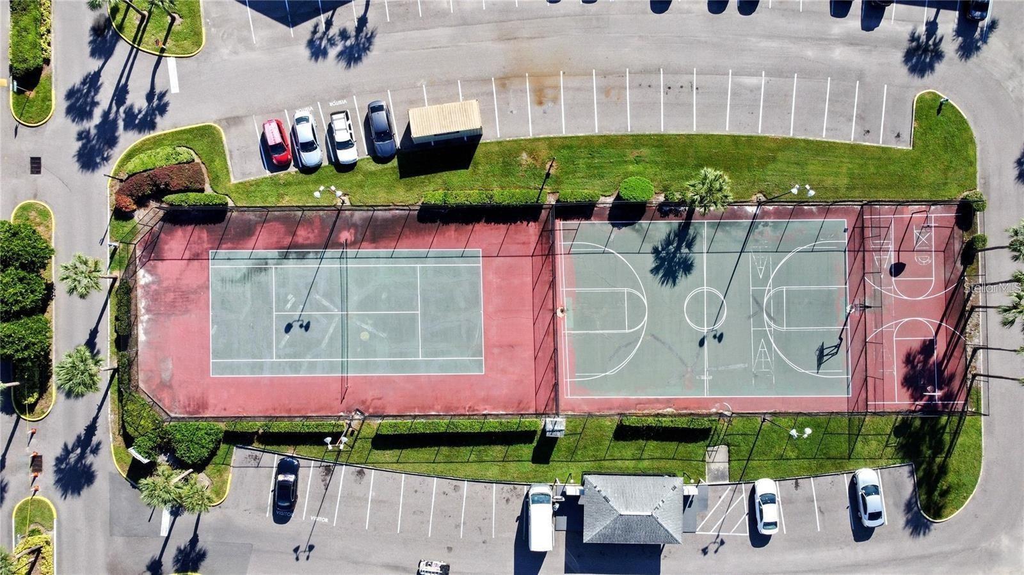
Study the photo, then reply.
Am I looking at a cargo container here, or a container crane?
cargo container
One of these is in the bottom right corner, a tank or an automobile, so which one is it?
automobile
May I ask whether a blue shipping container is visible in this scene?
No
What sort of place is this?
sports ground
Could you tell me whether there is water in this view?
No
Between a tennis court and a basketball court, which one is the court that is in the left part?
tennis court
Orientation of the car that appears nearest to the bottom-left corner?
up and down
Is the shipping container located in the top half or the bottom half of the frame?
top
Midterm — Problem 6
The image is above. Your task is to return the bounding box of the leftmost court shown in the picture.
[135,206,556,415]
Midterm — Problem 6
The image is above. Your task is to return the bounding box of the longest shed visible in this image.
[564,475,697,544]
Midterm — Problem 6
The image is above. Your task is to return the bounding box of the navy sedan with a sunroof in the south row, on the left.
[272,456,299,511]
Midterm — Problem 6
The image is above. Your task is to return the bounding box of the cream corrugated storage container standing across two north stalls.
[407,98,483,143]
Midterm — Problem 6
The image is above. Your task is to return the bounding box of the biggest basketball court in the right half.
[554,204,868,414]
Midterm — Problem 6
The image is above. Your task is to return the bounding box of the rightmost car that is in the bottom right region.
[853,468,884,526]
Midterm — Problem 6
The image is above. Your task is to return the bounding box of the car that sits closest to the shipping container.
[368,101,398,160]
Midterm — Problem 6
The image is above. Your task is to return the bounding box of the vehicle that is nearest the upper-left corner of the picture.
[263,118,295,169]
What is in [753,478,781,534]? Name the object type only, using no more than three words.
car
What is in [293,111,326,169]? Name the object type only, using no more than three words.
car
